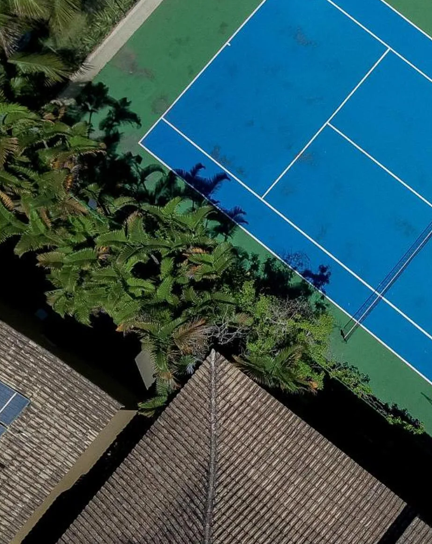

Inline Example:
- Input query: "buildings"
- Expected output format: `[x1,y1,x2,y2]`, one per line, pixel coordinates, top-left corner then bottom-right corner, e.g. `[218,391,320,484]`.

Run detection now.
[49,347,430,544]
[0,261,163,544]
